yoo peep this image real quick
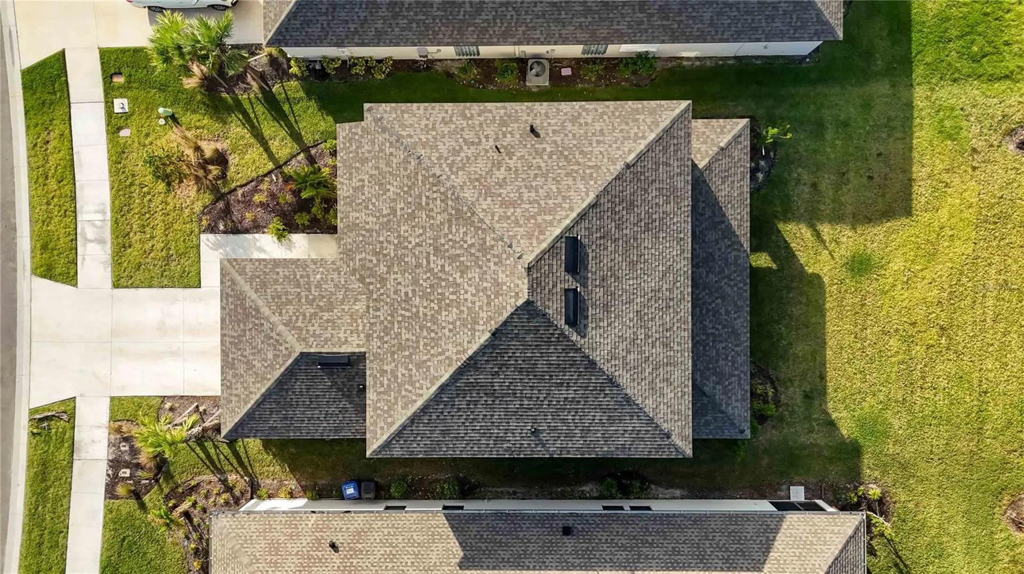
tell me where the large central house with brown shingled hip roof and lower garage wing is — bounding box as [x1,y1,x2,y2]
[220,101,750,458]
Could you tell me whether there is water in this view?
No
